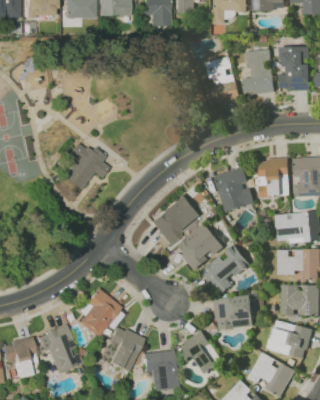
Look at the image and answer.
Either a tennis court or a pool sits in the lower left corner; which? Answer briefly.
pool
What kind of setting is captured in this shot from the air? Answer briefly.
residential area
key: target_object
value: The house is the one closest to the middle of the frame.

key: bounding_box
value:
[156,199,201,242]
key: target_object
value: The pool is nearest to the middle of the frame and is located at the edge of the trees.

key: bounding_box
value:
[230,206,258,235]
